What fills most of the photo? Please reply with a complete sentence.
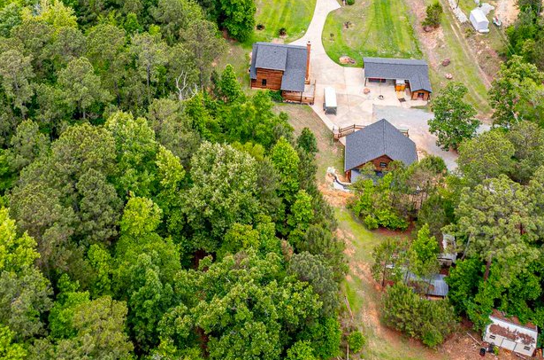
What you mostly see from above here is trees.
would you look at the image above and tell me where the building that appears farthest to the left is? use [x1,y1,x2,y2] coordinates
[249,40,314,103]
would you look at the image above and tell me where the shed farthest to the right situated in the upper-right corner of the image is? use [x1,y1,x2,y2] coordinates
[464,10,494,32]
